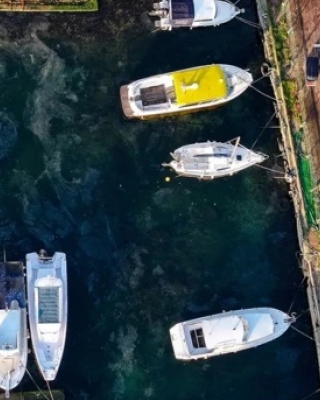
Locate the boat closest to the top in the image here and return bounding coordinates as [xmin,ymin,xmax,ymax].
[145,0,264,32]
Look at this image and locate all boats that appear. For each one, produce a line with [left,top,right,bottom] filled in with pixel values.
[160,112,285,180]
[117,63,276,122]
[163,283,311,364]
[26,246,68,400]
[145,0,264,32]
[0,246,46,400]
